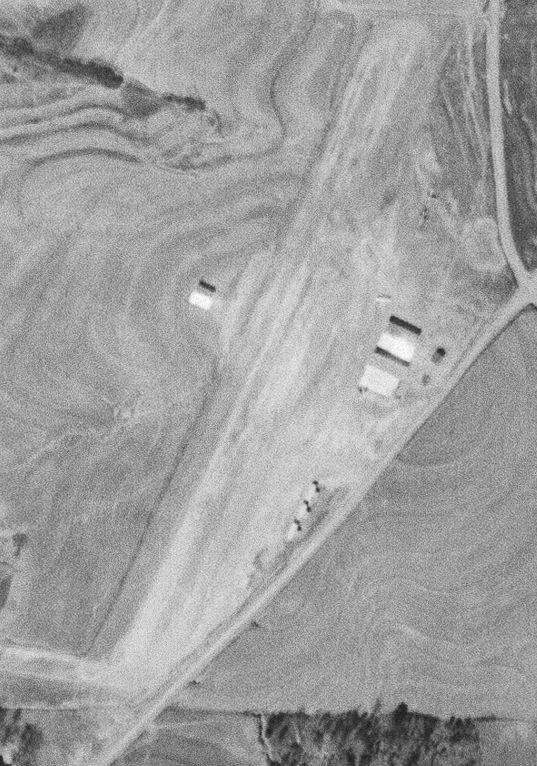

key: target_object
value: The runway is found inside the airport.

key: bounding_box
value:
[108,24,444,672]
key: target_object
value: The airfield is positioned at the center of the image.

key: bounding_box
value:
[108,24,470,672]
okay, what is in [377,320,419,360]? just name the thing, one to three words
hangar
